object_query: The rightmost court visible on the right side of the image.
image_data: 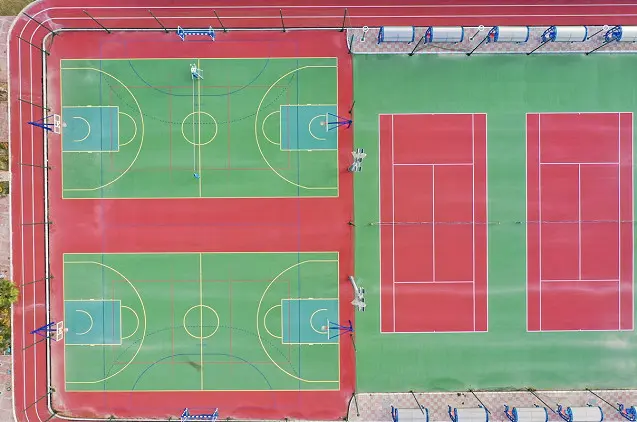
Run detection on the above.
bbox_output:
[526,111,634,332]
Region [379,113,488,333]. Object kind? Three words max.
tennis court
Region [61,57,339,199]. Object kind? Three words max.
basketball court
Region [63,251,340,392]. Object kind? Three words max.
basketball court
